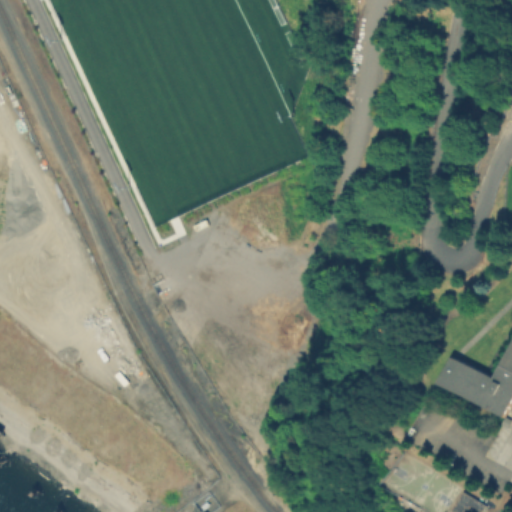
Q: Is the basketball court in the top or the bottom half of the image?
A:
bottom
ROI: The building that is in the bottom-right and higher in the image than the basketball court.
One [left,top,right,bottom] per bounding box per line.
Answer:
[435,344,512,422]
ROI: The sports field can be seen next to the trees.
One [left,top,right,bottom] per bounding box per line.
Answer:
[50,0,308,225]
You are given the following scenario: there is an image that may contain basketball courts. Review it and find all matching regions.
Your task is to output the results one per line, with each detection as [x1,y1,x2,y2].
[387,454,464,512]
